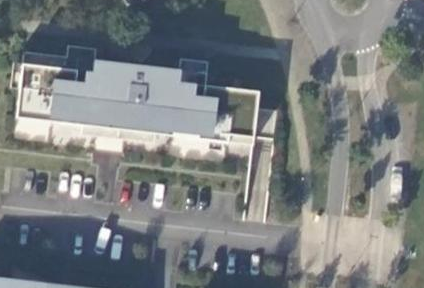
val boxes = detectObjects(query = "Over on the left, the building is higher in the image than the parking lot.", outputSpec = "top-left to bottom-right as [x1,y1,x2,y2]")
[10,46,260,158]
